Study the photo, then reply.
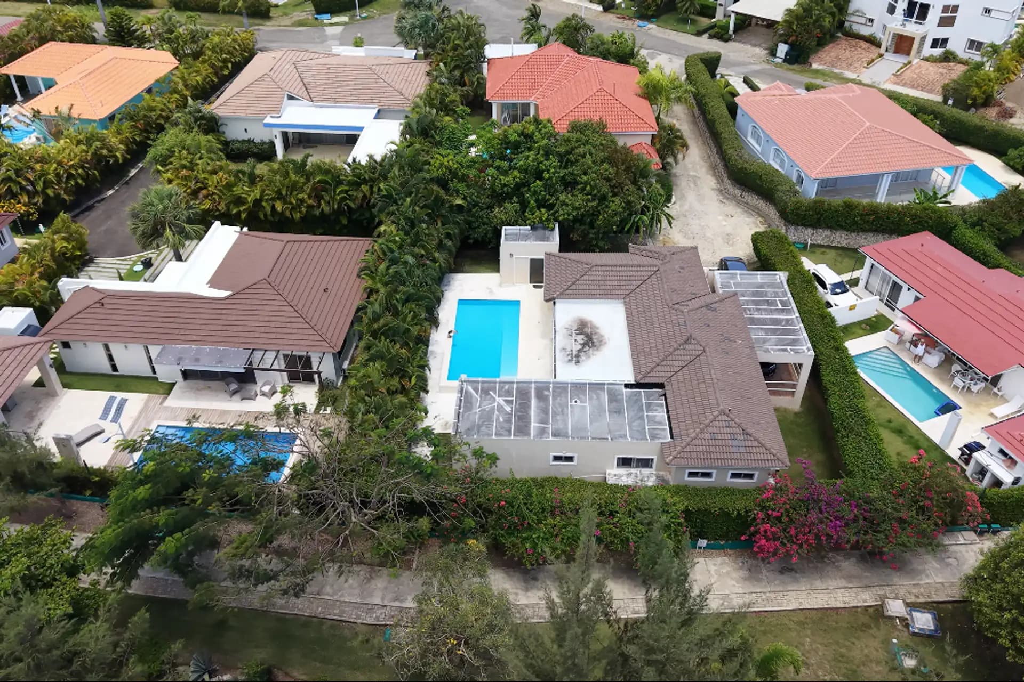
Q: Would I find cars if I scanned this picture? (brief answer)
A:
Yes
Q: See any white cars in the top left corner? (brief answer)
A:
No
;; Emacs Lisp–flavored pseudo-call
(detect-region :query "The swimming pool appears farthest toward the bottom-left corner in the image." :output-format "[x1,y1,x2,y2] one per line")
[143,421,306,488]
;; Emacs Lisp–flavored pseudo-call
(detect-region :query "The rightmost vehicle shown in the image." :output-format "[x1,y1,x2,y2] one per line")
[811,266,865,317]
